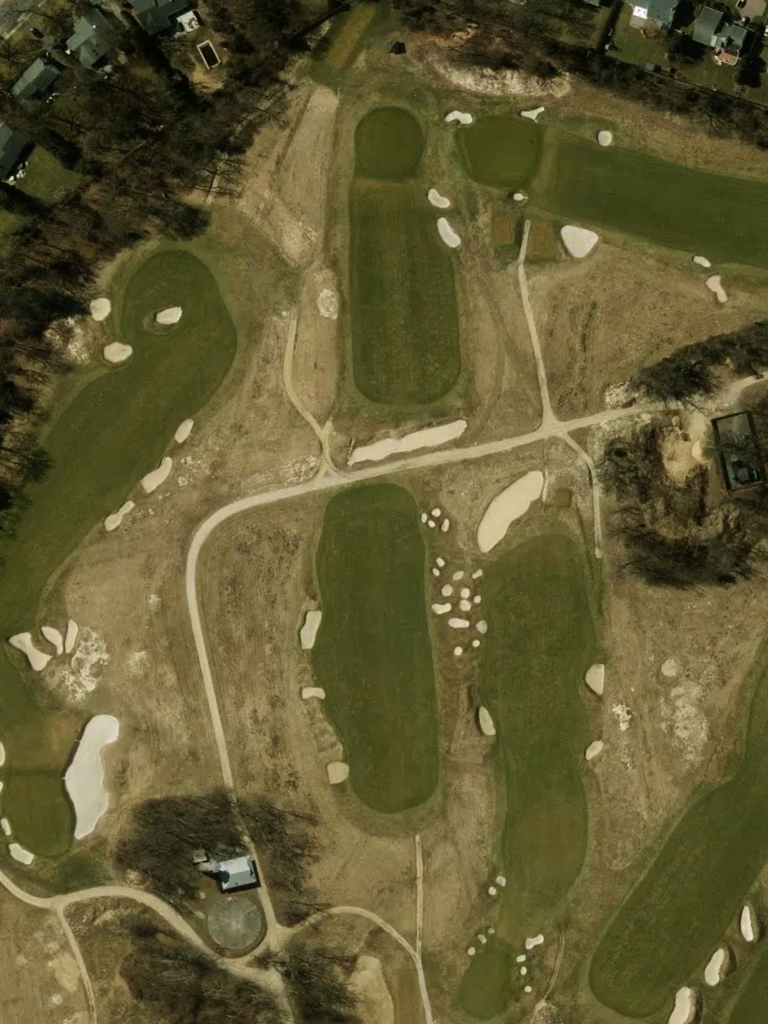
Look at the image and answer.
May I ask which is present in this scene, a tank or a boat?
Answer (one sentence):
Visible in the photo is a tank.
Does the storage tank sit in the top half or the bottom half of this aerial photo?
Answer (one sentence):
You can find the storage tank in the bottom half.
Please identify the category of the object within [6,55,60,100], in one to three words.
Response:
house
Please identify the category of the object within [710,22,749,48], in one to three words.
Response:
house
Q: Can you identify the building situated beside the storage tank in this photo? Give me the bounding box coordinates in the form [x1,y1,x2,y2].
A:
[198,858,258,890]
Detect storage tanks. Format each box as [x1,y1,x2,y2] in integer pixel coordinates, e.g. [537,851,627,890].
[209,898,262,951]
